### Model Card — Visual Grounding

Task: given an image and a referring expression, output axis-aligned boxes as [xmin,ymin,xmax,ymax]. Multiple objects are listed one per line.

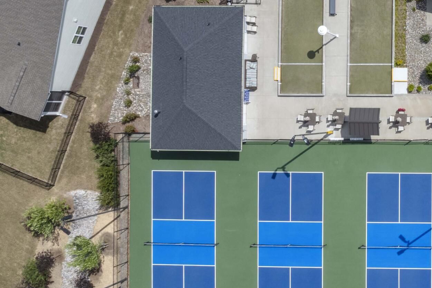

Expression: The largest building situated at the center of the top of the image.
[150,5,247,152]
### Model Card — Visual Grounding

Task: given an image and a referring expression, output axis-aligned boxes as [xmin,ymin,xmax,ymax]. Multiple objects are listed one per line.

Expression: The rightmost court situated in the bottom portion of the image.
[366,173,432,288]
